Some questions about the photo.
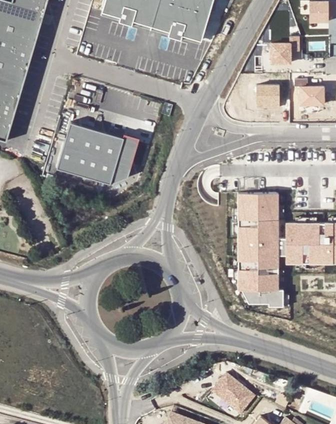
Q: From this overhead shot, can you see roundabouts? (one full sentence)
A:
Yes, the picture does show a roundabout.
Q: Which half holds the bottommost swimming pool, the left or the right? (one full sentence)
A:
The bottommost swimming pool is on the right side of the image.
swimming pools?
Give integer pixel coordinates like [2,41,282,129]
[306,40,326,52]
[299,387,336,424]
